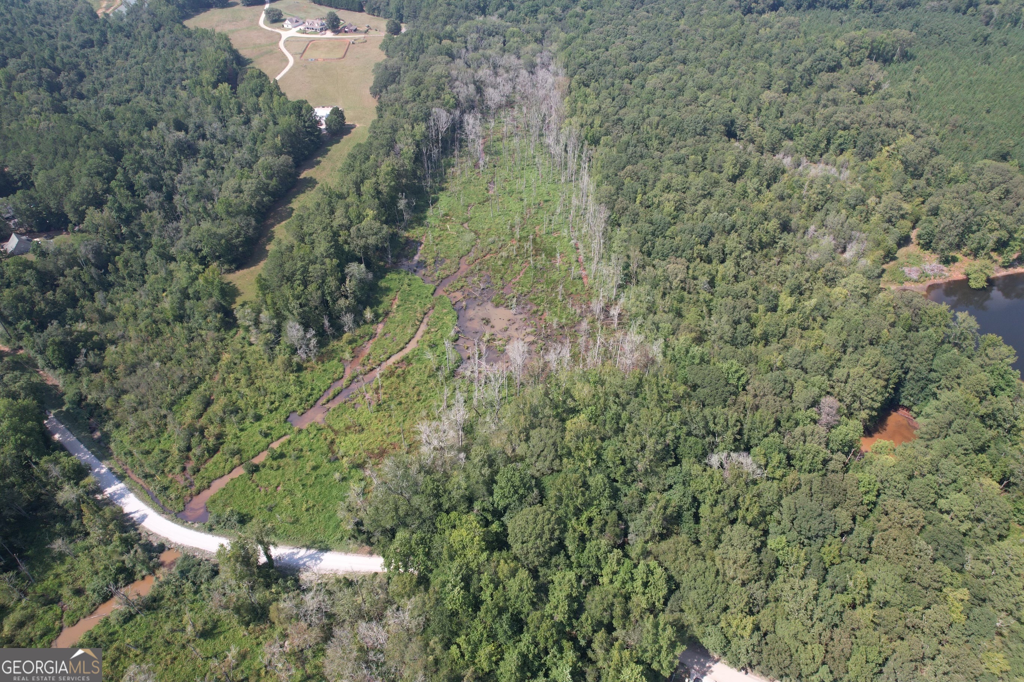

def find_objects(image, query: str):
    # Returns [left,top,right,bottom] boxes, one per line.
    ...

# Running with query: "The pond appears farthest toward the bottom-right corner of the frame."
[859,410,914,462]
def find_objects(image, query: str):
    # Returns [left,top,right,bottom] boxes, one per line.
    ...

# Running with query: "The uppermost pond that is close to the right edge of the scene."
[924,272,1024,398]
